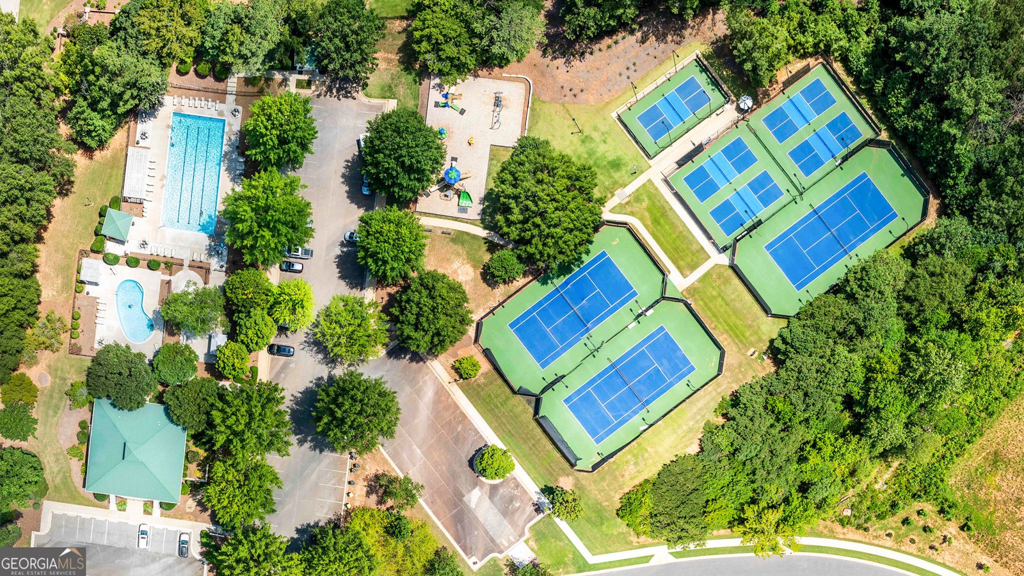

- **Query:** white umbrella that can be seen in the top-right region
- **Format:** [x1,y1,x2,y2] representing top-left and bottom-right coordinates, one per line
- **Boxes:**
[739,94,753,108]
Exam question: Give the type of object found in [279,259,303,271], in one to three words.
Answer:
vehicle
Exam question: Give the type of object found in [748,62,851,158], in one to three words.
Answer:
sports court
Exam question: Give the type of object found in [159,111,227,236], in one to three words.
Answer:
swimming pool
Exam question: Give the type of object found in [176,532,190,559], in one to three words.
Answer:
car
